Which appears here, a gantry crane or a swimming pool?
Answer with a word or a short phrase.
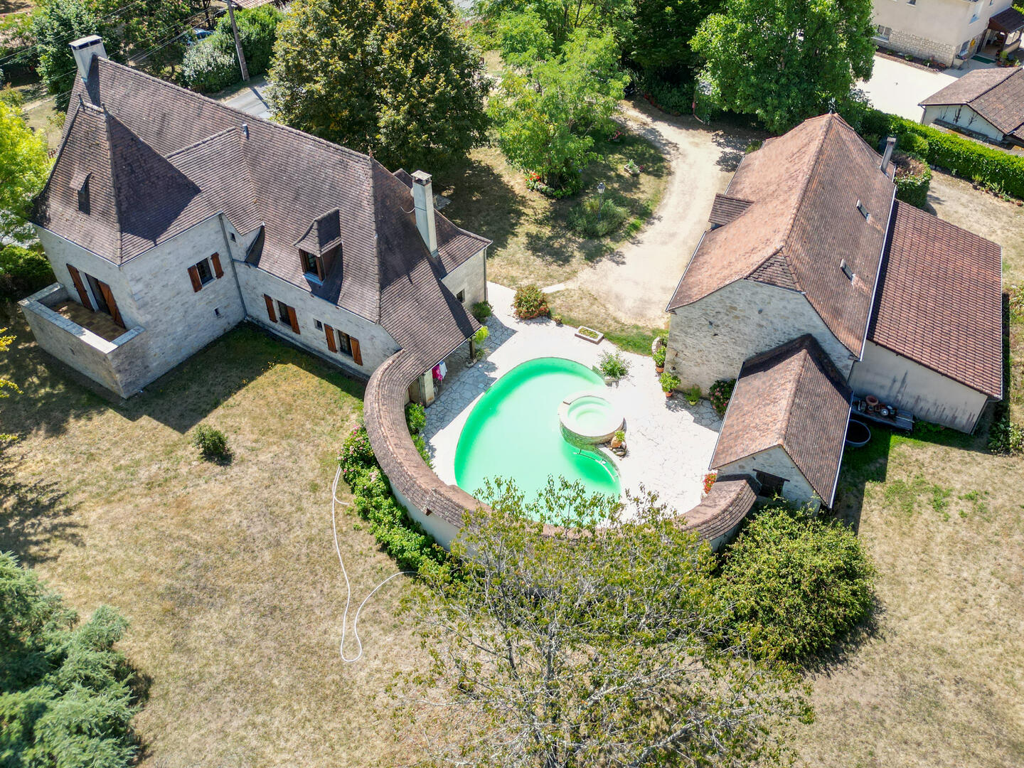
swimming pool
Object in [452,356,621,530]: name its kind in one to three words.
swimming pool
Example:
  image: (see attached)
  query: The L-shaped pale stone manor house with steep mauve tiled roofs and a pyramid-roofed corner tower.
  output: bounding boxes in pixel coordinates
[17,33,492,409]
